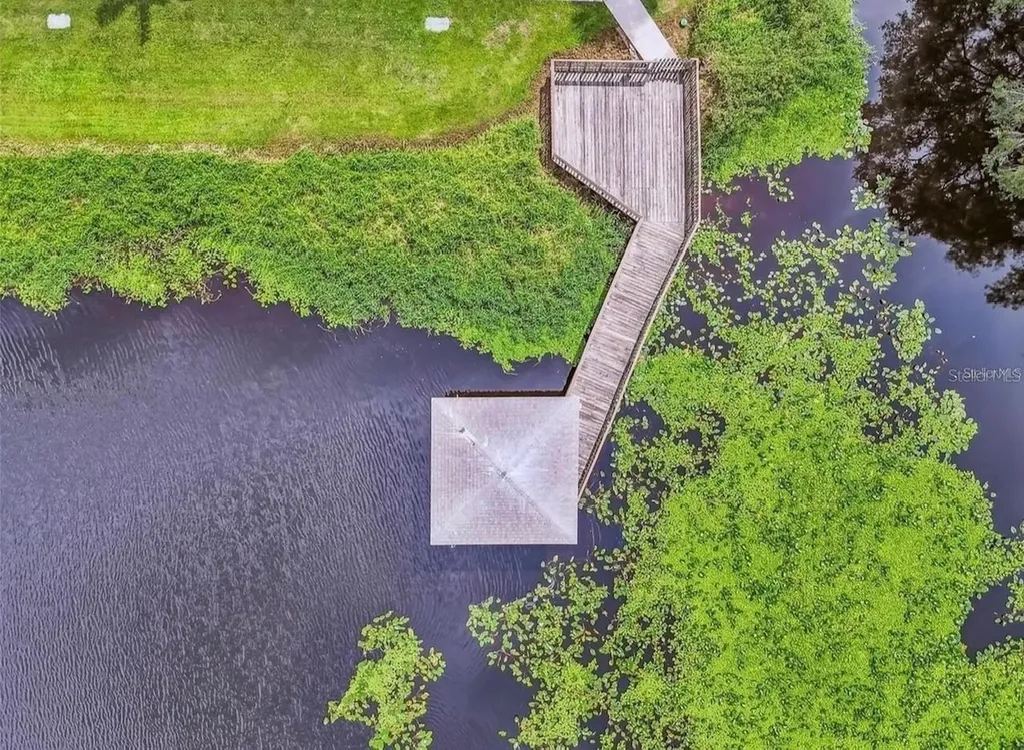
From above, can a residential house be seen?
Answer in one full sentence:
No, there isn't any residential house down there.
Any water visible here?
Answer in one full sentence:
Yes, the picture does contain water.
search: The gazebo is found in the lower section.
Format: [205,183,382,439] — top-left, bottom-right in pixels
[431,396,580,546]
